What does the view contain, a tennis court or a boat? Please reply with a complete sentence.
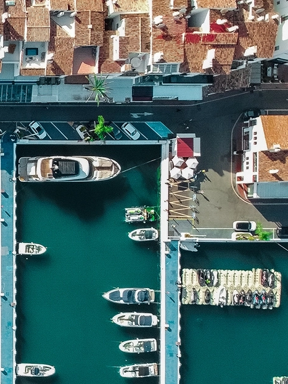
Of the two, only a boat appears.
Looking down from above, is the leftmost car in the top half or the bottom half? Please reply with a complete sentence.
The top half of the photo is where the leftmost car is.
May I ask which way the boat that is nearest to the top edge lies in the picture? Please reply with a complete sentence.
What the image shows is the boat that is nearest to the top edge lying from side to side.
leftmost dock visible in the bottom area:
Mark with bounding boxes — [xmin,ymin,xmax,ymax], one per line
[0,130,27,384]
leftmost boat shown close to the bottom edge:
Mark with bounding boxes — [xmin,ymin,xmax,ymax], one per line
[16,362,60,377]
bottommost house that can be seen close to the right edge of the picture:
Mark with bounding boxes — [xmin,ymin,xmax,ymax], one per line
[235,114,288,195]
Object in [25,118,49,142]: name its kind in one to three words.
car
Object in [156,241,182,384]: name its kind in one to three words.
pier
